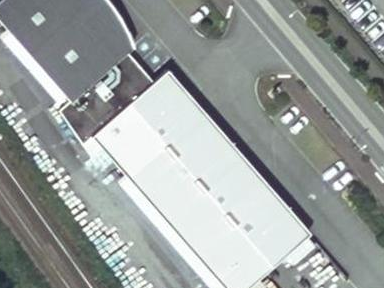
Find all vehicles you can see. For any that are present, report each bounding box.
[350,0,373,20]
[332,172,354,191]
[358,10,381,30]
[366,20,384,40]
[289,115,310,134]
[324,162,344,180]
[282,106,304,126]
[188,6,210,24]
[373,35,384,51]
[298,278,312,288]
[342,0,358,8]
